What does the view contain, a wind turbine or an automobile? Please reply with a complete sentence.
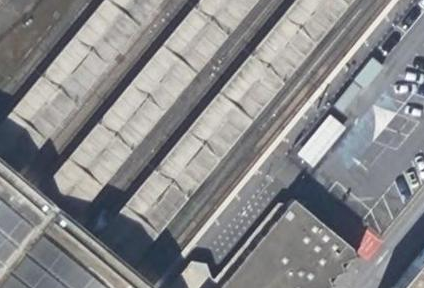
There is an automobile in the scene.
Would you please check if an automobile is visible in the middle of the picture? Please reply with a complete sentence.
No, in the middle of the picture there is no automobile.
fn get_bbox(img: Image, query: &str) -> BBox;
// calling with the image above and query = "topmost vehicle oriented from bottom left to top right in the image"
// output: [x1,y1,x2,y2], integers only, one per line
[402,5,422,28]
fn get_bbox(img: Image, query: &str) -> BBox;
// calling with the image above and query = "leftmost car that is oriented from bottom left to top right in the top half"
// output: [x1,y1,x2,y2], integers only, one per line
[382,32,402,52]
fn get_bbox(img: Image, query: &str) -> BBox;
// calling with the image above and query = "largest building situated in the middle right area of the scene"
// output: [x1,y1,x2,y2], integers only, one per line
[298,116,346,168]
